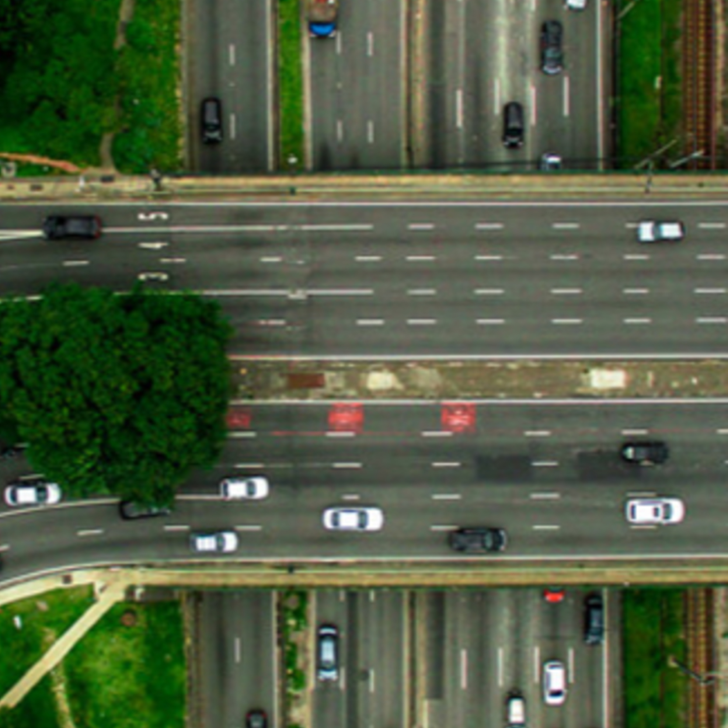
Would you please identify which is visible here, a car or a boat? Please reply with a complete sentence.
The one in the frame is a car.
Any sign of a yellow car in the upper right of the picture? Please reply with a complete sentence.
No, no yellow car is visible in the upper right of the picture.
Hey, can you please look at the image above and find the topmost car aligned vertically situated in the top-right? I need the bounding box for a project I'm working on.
[539,18,566,75]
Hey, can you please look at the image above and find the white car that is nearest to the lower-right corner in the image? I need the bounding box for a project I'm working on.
[542,659,567,705]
